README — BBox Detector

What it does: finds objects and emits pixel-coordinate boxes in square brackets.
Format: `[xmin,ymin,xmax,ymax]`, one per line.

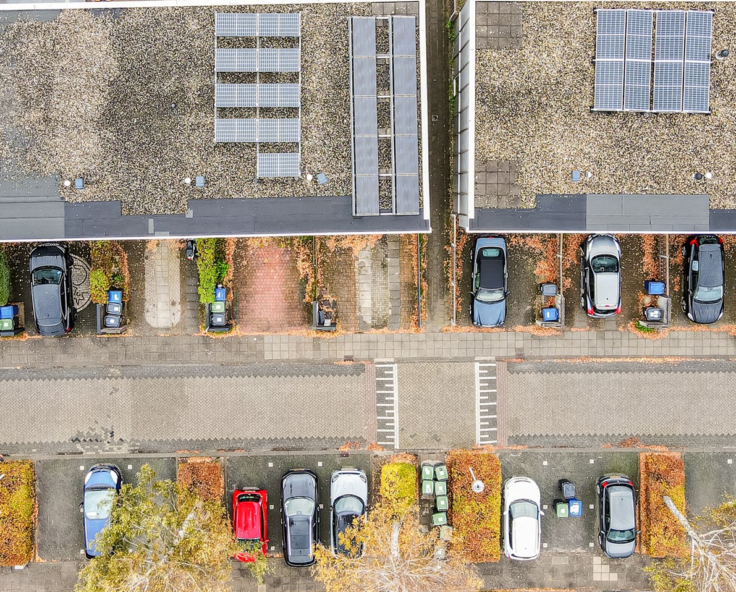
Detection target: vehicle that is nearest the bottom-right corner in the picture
[597,470,642,555]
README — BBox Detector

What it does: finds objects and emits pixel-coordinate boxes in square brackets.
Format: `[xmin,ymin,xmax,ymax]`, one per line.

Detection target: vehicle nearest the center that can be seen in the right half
[468,234,511,326]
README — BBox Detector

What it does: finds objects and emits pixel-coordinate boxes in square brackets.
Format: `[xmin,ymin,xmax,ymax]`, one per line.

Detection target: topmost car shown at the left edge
[24,244,74,335]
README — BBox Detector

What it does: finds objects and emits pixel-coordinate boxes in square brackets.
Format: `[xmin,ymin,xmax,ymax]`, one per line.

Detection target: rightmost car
[682,235,729,324]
